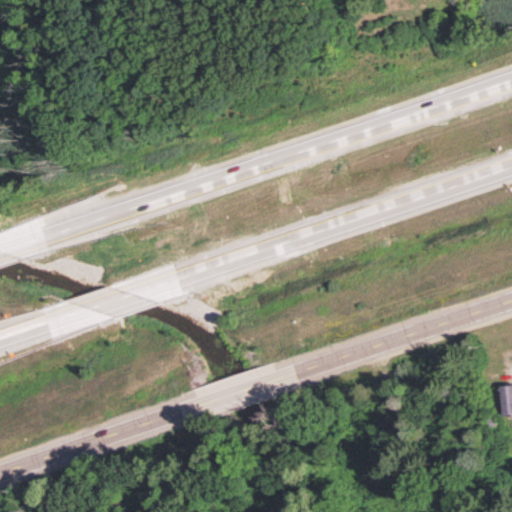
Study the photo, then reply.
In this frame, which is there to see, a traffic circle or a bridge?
bridge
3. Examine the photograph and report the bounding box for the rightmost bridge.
[188,358,300,421]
